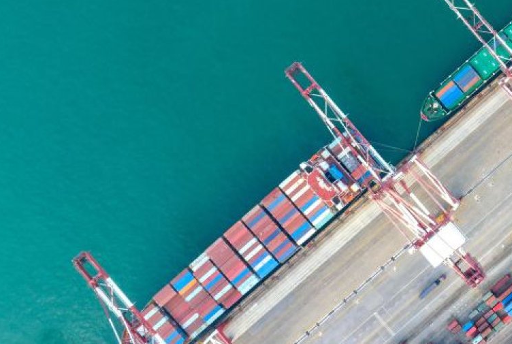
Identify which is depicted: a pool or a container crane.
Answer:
container crane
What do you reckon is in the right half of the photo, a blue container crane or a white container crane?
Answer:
white container crane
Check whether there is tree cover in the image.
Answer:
No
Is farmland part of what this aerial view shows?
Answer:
No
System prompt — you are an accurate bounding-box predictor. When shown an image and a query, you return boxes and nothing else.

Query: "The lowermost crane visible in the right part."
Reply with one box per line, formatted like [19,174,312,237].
[285,63,485,288]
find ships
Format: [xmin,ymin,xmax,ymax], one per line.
[422,18,512,120]
[114,125,391,344]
